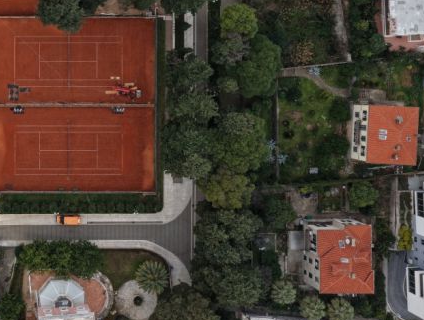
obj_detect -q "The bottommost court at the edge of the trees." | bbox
[0,107,155,191]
